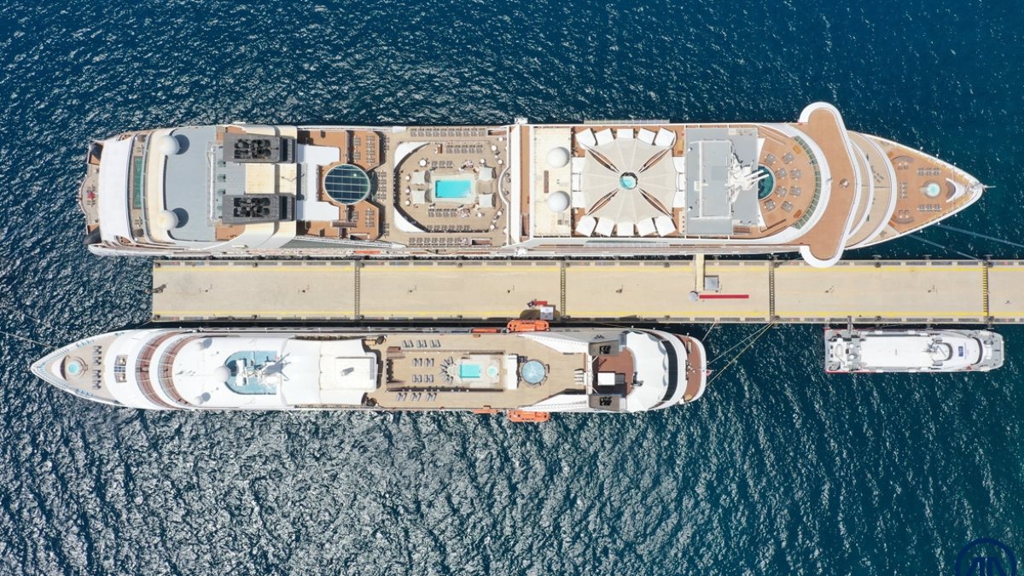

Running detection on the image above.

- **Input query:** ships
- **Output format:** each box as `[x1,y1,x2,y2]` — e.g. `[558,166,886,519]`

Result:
[80,103,995,268]
[823,326,1005,374]
[29,326,707,416]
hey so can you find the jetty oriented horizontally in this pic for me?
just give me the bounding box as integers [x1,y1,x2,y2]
[153,259,1024,323]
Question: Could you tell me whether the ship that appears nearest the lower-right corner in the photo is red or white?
white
